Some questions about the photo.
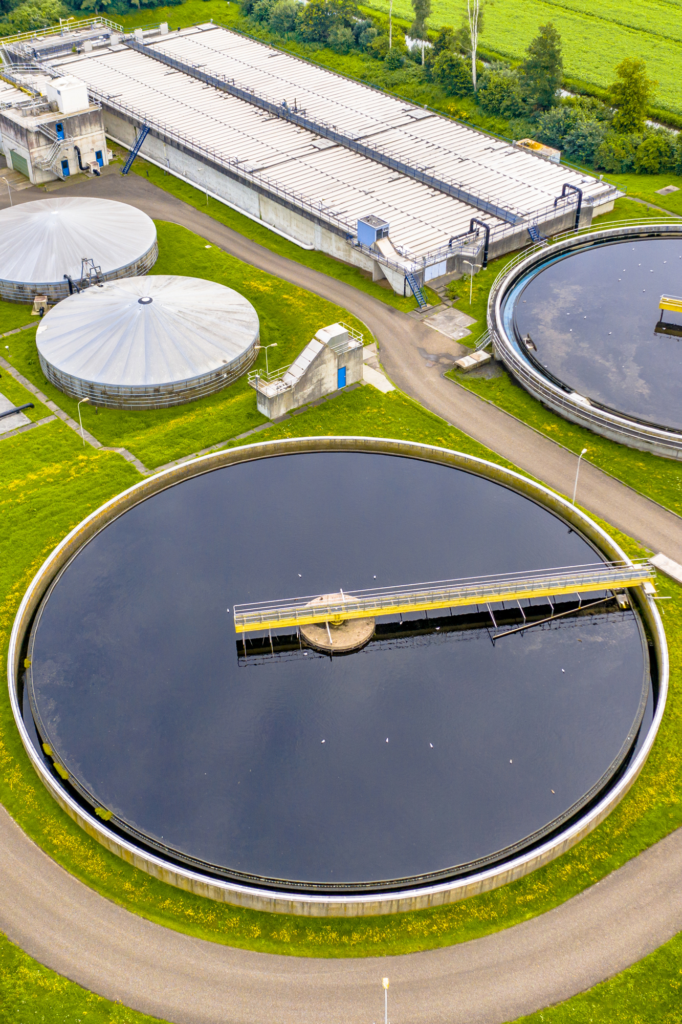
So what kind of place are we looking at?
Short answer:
industrial area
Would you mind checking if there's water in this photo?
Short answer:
Yes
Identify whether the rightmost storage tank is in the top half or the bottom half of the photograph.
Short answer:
top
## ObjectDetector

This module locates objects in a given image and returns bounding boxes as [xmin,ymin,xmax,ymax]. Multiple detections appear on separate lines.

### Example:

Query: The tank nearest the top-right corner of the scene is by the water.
[487,220,682,462]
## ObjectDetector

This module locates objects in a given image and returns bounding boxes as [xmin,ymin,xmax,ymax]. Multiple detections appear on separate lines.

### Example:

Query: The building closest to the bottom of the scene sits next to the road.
[243,321,364,419]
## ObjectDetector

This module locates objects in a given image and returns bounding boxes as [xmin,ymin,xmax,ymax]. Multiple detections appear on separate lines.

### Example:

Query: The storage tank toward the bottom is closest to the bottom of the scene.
[6,436,667,916]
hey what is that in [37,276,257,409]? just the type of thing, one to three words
storage tank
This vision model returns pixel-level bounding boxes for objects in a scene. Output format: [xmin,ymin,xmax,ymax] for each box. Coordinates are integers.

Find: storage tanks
[0,196,156,305]
[37,276,257,409]
[487,220,682,462]
[6,436,667,916]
